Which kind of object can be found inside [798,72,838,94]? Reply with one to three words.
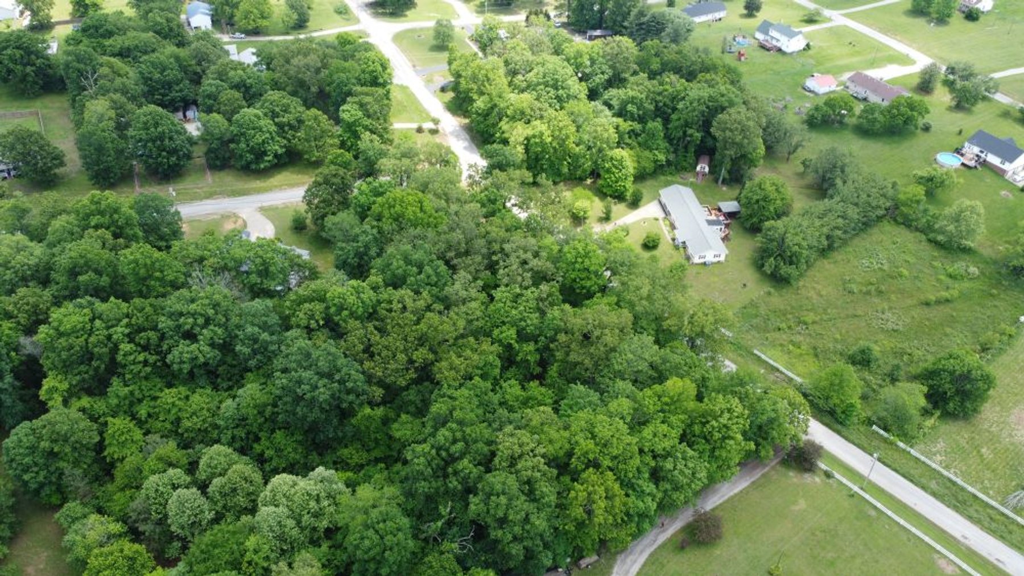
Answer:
shed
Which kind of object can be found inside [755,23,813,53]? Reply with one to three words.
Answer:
house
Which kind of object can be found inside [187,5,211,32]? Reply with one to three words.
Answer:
house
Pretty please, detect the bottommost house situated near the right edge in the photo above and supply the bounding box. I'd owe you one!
[957,132,1024,181]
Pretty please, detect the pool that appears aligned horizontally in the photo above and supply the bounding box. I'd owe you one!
[931,153,967,170]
